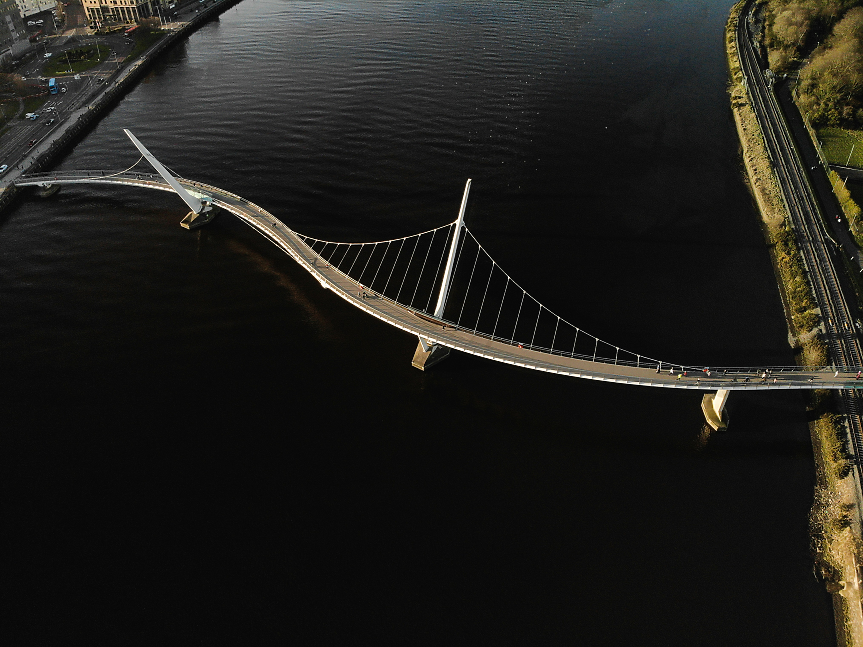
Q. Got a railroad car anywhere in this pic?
No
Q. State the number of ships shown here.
0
